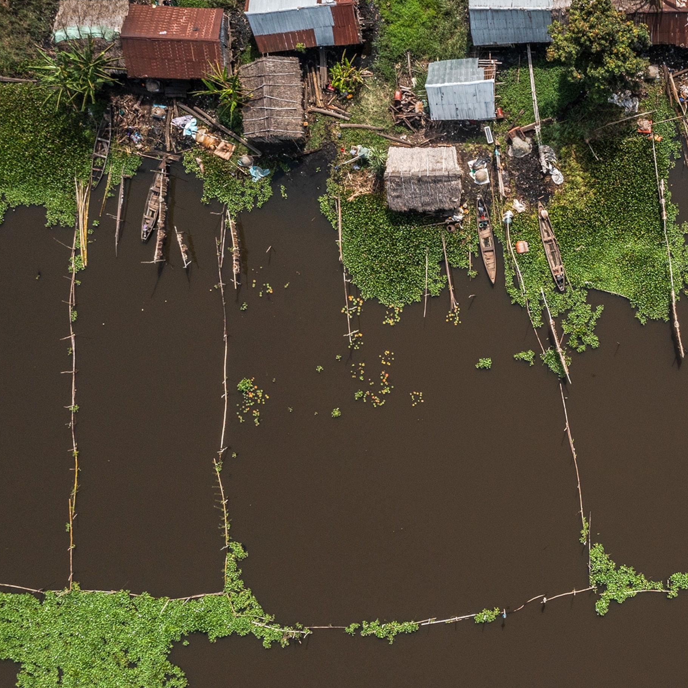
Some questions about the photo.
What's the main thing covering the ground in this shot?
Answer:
water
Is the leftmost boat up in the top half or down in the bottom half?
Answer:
top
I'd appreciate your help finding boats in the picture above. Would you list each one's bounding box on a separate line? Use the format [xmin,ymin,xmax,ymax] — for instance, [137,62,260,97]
[539,201,565,291]
[90,104,112,190]
[476,195,496,284]
[141,159,165,241]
